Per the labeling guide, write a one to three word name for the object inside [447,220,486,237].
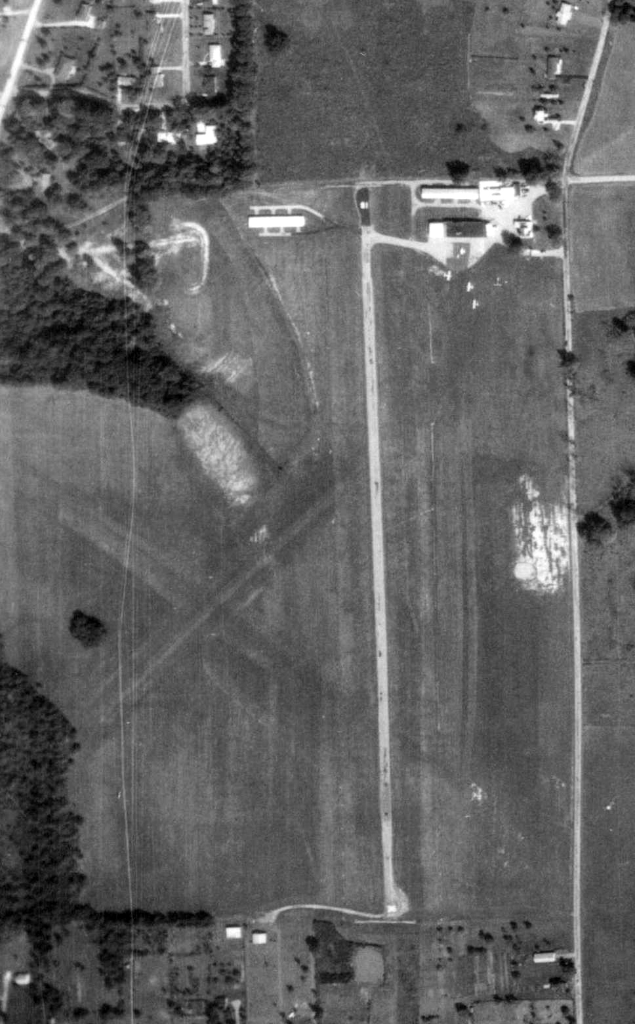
hangar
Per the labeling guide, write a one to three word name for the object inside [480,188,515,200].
hangar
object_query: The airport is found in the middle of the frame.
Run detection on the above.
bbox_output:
[60,181,547,918]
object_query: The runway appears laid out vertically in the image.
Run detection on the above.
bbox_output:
[361,225,394,913]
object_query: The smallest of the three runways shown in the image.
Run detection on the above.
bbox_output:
[122,486,338,703]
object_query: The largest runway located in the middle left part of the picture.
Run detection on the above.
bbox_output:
[60,504,276,726]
